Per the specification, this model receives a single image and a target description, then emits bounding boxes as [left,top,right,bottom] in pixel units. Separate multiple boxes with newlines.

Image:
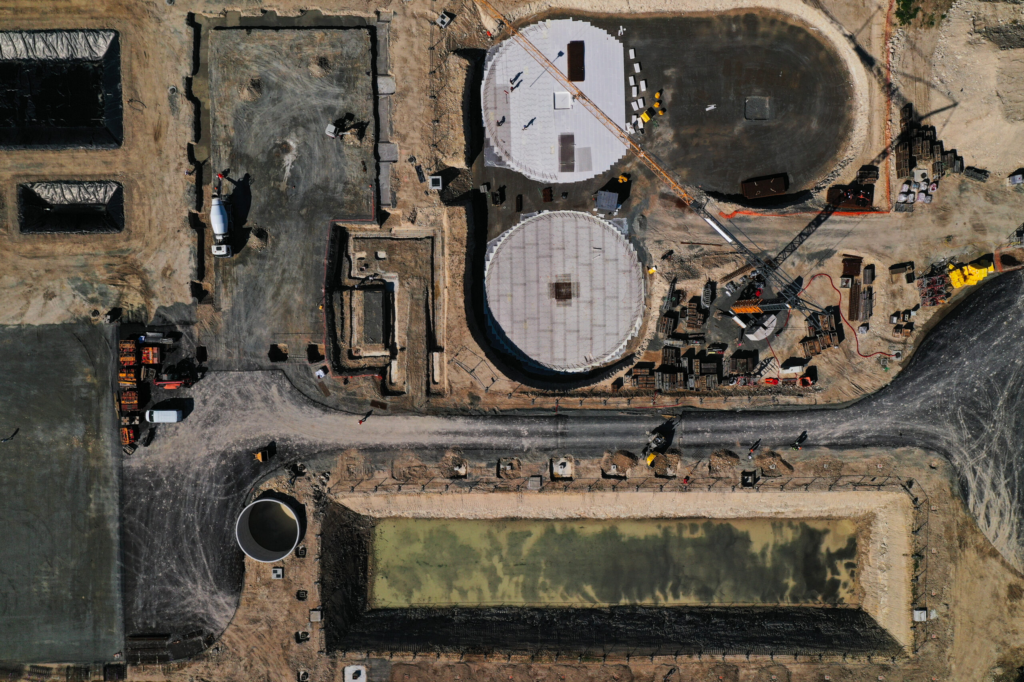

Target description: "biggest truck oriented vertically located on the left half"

[212,177,236,259]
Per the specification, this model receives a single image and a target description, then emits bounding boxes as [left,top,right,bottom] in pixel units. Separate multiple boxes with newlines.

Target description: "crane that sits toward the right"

[483,0,831,342]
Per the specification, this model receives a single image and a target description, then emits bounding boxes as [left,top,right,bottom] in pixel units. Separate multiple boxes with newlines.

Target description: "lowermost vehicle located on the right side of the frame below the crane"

[647,428,665,462]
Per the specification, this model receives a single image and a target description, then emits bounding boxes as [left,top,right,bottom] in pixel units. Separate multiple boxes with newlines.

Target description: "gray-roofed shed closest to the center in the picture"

[595,189,619,214]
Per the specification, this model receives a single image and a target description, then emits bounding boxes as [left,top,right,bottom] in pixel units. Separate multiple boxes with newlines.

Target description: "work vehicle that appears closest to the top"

[325,124,354,142]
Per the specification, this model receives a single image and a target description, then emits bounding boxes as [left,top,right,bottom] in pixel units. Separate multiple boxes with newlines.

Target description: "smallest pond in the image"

[19,182,126,233]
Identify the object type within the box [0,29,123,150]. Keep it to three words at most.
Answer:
pond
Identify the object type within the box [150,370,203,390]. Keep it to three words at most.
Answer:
work vehicle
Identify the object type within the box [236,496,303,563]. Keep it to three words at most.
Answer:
storage tank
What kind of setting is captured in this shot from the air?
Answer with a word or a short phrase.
industrial area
